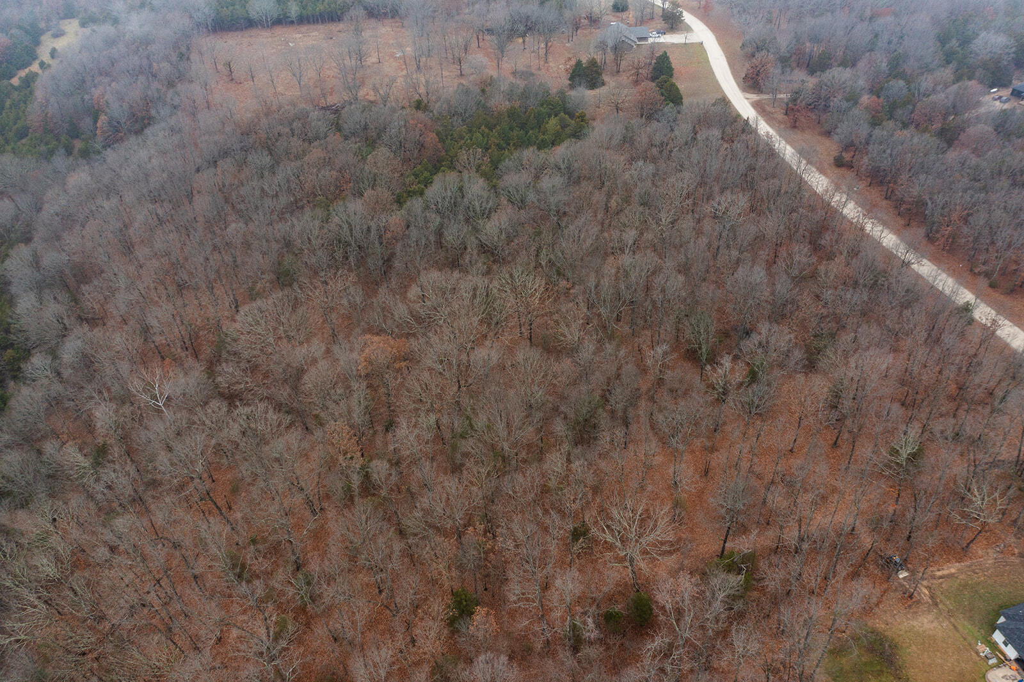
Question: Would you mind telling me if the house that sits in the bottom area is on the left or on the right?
right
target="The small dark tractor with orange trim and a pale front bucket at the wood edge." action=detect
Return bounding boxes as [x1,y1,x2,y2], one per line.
[882,550,914,585]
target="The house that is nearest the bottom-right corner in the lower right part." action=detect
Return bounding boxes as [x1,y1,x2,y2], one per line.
[990,592,1024,663]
